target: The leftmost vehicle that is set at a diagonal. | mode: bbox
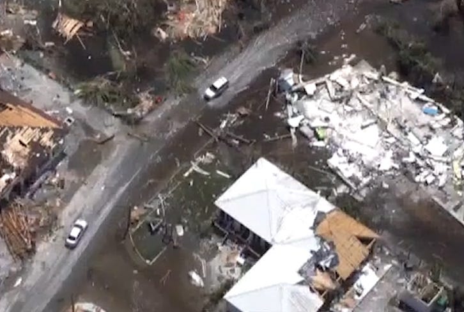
[62,215,92,252]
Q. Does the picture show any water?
Yes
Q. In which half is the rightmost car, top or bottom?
top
